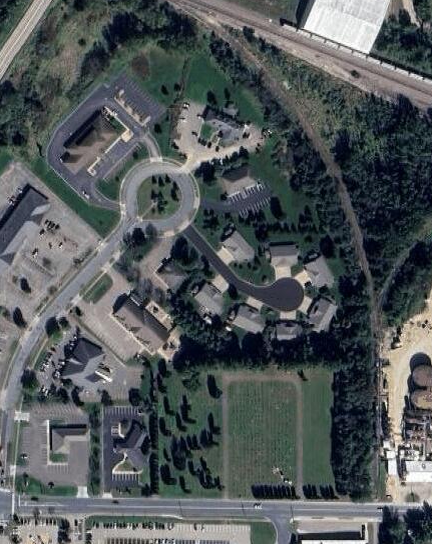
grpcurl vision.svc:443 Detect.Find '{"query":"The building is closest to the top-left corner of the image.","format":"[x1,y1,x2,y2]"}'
[58,109,123,173]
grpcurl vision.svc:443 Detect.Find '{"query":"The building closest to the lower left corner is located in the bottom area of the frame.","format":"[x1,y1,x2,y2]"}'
[112,417,151,477]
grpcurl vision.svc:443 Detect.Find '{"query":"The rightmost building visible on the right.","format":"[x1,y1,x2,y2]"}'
[404,461,432,482]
